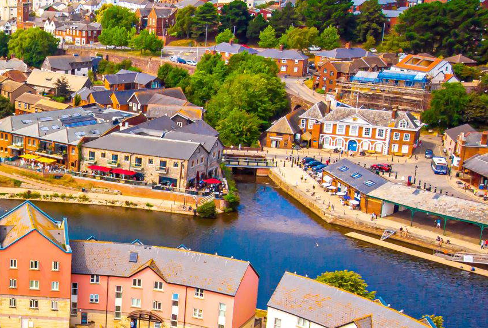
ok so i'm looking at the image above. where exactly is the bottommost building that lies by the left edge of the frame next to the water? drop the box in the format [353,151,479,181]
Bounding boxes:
[0,197,75,328]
